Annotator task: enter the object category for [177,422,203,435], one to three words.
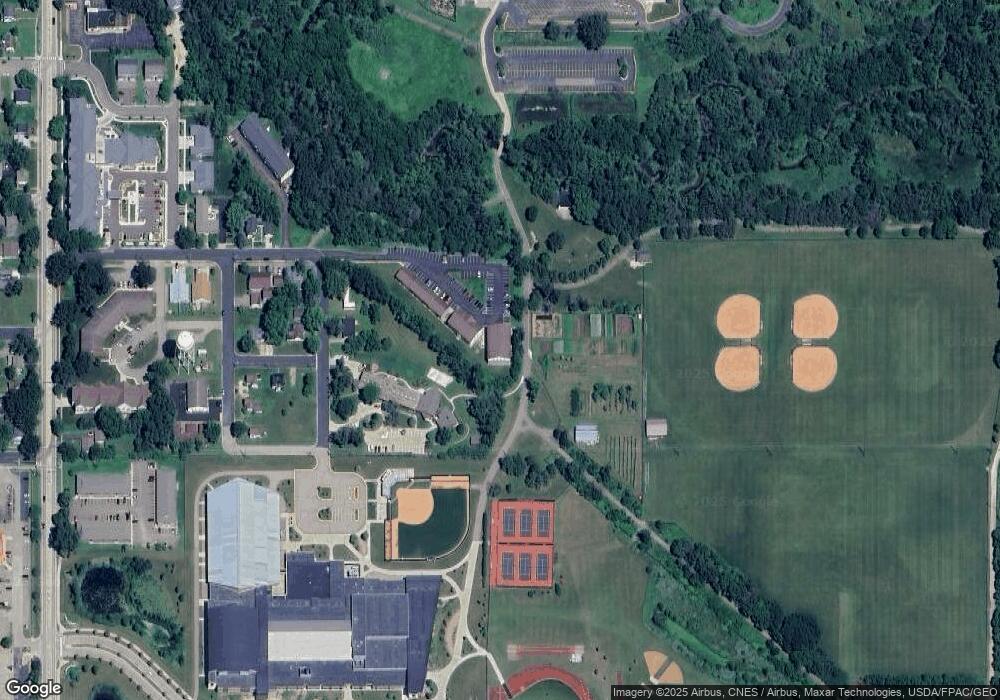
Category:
house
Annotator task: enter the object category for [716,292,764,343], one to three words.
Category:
baseball field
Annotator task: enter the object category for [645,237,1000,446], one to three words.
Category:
sports field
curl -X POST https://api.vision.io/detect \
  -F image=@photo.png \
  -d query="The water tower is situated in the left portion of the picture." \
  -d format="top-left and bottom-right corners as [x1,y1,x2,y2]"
[173,334,196,380]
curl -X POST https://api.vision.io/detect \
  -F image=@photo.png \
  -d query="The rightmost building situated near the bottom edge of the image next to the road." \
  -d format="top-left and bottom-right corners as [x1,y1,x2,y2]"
[207,477,441,699]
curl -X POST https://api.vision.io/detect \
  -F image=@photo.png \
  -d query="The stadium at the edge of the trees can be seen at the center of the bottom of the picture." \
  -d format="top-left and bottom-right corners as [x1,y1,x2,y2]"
[385,474,471,561]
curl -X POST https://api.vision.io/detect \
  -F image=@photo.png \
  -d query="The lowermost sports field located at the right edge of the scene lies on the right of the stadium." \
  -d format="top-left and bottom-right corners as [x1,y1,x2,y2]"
[645,447,989,676]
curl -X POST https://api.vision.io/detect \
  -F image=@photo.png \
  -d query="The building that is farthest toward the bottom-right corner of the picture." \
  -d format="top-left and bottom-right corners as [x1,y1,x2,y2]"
[646,420,667,435]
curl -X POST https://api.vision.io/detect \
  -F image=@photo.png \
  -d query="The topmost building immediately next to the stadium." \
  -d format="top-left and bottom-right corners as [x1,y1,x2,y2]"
[361,372,457,427]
